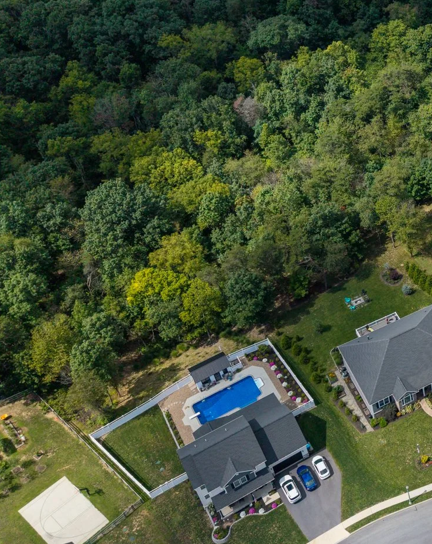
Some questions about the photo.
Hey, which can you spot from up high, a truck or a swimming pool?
swimming pool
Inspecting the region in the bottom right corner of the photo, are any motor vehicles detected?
Yes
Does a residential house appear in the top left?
No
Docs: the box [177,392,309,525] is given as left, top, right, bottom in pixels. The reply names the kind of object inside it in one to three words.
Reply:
house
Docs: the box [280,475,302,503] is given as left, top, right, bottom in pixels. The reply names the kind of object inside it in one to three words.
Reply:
car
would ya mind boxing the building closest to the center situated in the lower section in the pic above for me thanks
[185,349,233,390]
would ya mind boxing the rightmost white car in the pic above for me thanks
[311,455,331,481]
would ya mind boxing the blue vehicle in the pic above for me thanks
[296,464,317,491]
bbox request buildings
[337,306,432,414]
[177,392,309,525]
[185,349,233,390]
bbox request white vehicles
[311,455,331,481]
[280,475,302,503]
